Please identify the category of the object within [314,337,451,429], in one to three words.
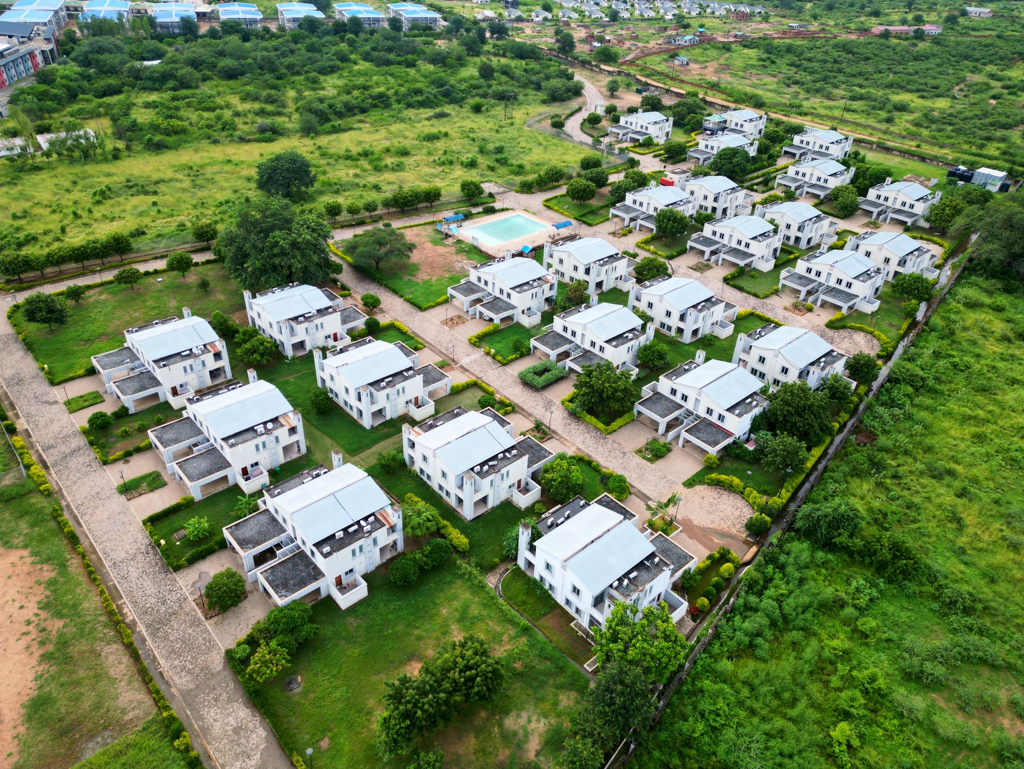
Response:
house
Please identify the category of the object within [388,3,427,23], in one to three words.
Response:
building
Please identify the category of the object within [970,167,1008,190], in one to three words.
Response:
building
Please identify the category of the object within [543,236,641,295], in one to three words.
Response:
house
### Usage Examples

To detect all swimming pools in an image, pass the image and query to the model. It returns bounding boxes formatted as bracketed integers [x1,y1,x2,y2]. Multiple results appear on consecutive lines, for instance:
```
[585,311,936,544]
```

[434,209,580,259]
